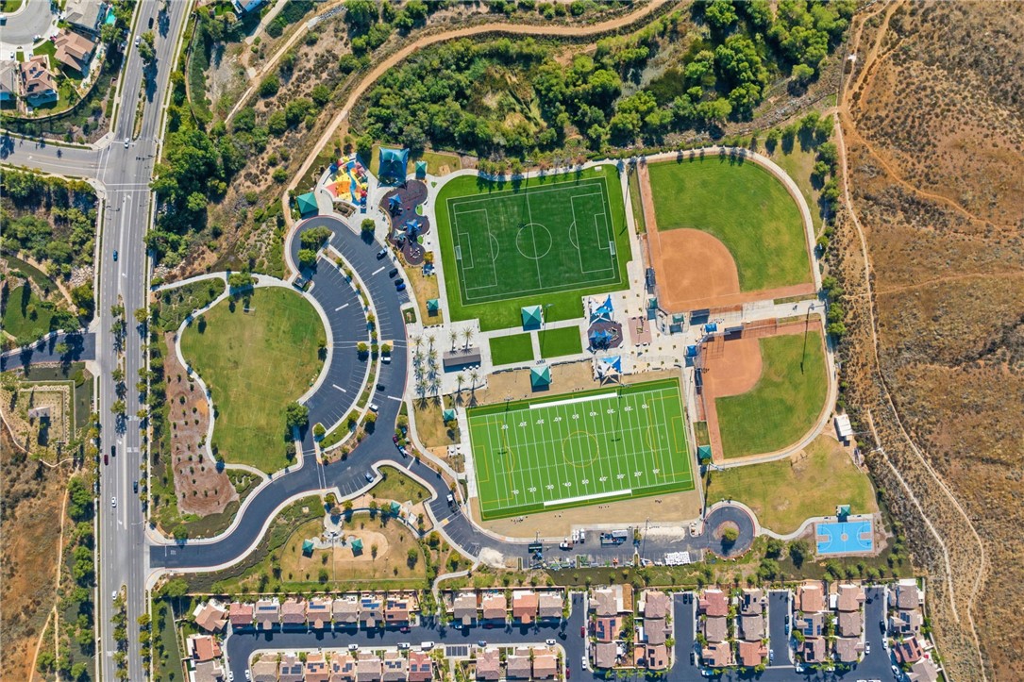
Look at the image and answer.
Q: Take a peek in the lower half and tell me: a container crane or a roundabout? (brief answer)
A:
roundabout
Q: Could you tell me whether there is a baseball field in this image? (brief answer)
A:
Yes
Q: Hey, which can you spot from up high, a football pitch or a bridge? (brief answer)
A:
football pitch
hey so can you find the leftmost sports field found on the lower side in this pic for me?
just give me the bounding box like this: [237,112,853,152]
[466,378,695,521]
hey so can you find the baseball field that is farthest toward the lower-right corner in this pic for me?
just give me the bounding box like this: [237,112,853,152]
[701,315,830,463]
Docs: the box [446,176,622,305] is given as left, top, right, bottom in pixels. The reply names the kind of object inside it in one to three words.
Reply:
soccer field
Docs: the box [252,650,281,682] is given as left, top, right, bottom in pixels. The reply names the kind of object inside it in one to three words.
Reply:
house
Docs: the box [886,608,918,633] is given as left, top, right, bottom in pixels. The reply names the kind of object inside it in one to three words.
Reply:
house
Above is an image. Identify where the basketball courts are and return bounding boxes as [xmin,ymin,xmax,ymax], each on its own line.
[815,519,875,557]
